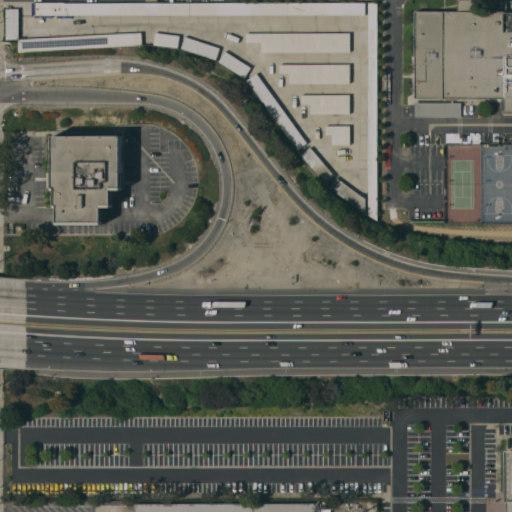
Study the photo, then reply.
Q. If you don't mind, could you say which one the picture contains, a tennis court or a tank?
tennis court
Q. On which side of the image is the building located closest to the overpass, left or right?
left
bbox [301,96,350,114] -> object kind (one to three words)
shed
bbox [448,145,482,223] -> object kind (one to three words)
tennis court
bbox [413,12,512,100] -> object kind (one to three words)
building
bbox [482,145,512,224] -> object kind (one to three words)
basketball court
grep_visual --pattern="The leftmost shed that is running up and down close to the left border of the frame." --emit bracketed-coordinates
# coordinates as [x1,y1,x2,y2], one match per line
[6,8,19,40]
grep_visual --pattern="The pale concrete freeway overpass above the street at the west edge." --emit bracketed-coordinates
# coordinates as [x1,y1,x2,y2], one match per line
[0,278,26,369]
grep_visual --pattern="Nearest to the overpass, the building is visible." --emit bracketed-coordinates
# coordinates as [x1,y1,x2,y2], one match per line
[50,136,122,226]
